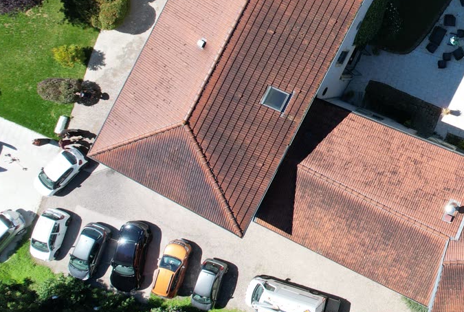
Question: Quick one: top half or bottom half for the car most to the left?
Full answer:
Seen from above, the car most to the left lies in the bottom half of the view.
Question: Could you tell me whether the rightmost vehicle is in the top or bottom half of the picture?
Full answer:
You can find the rightmost vehicle in the bottom half.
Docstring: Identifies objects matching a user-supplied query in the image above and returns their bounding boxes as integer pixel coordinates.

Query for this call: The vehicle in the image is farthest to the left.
[0,204,34,263]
